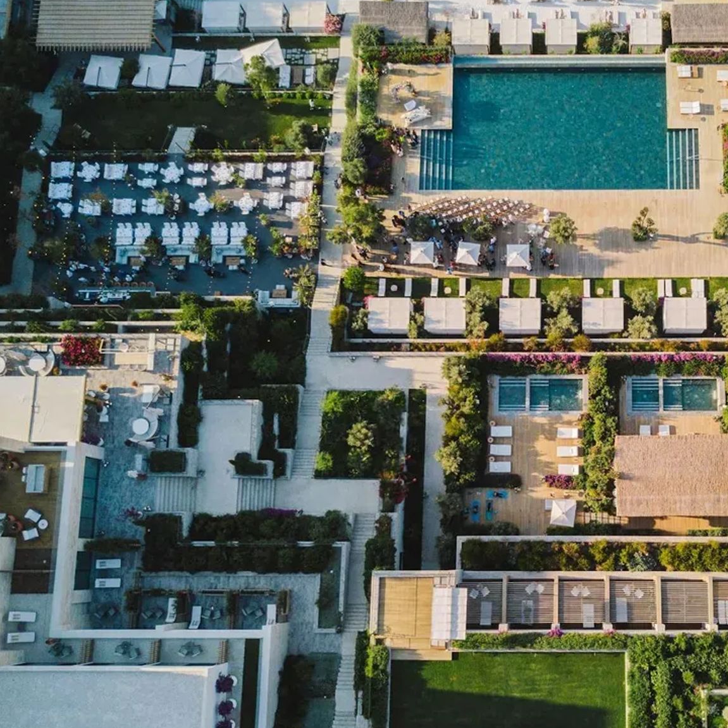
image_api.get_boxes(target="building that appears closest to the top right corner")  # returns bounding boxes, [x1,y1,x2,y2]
[672,2,728,47]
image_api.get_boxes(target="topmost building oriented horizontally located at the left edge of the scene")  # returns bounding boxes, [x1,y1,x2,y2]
[33,0,168,62]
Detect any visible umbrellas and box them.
[410,241,435,266]
[455,242,481,267]
[549,499,577,528]
[211,52,248,87]
[245,39,288,75]
[134,57,173,106]
[506,245,530,269]
[83,56,126,106]
[170,53,207,102]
